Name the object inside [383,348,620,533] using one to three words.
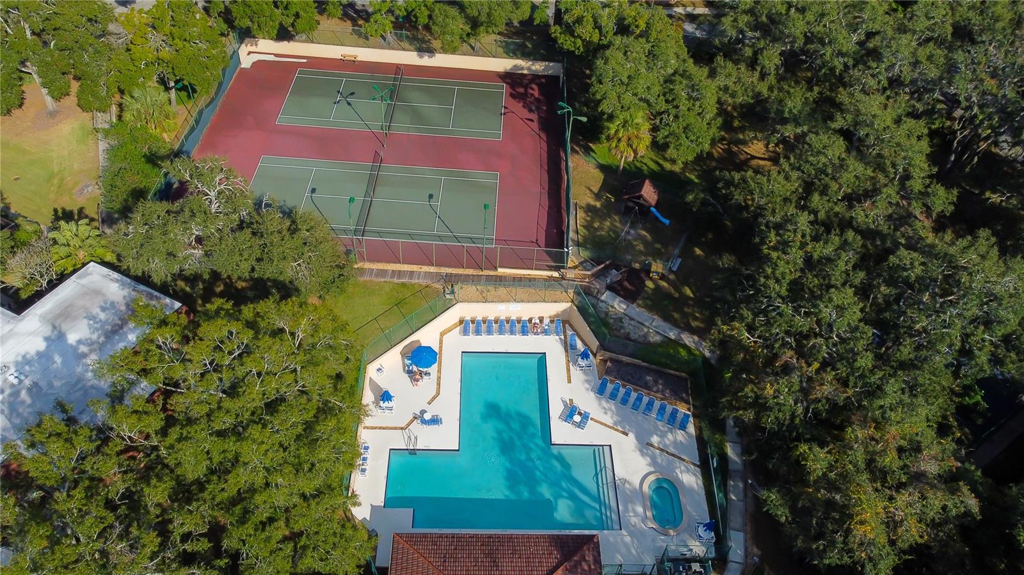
swimming pool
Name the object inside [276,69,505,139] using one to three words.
tennis court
